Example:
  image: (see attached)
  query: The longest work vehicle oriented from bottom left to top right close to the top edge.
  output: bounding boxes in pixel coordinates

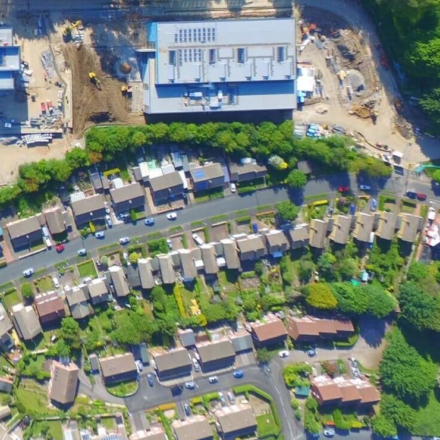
[62,17,83,37]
